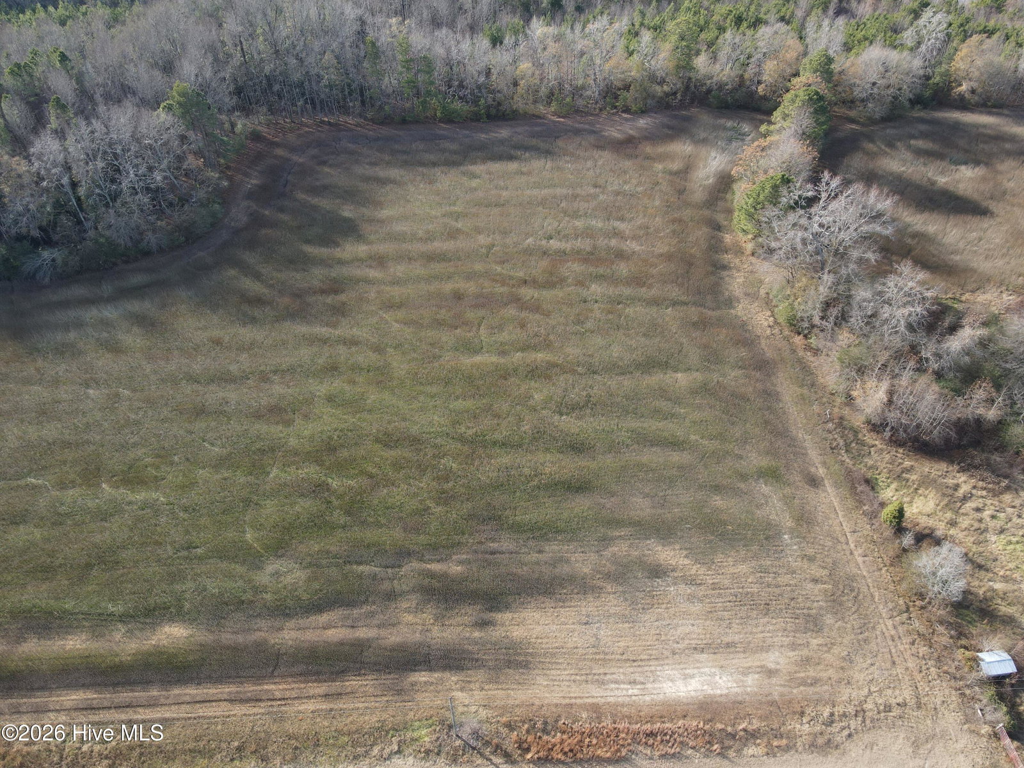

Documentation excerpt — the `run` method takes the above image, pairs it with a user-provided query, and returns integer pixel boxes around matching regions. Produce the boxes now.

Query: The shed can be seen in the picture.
[971,651,1018,681]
